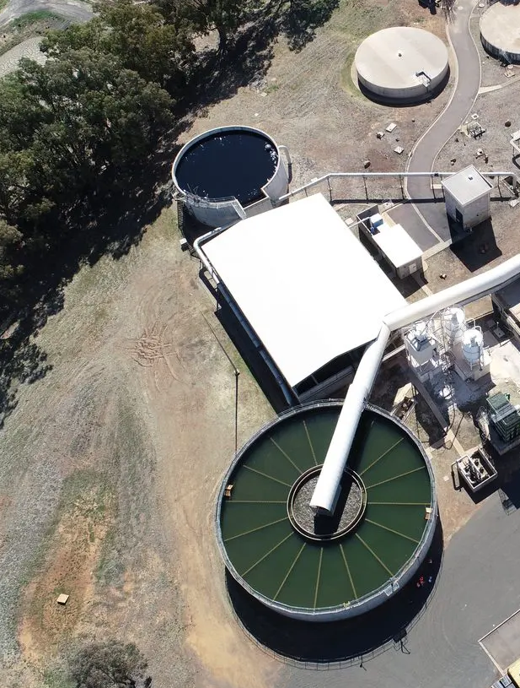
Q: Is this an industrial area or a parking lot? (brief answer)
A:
industrial area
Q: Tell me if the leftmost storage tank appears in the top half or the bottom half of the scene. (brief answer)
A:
top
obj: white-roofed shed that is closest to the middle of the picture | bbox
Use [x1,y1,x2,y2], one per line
[201,193,413,402]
